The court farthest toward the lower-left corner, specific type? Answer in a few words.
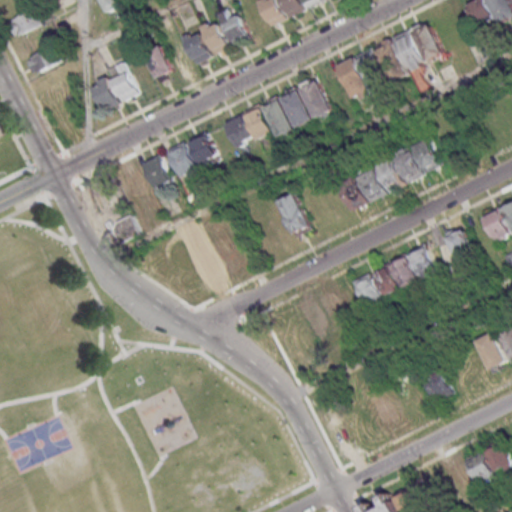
basketball court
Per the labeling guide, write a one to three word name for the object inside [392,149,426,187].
house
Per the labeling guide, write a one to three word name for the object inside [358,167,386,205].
house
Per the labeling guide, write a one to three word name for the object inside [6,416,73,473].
basketball court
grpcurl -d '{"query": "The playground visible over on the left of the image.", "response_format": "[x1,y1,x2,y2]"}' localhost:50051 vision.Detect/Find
[134,386,198,458]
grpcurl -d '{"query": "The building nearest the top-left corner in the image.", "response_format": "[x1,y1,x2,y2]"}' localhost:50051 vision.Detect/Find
[8,18,44,38]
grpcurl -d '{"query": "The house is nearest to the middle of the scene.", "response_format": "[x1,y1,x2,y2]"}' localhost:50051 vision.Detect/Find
[274,192,309,236]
